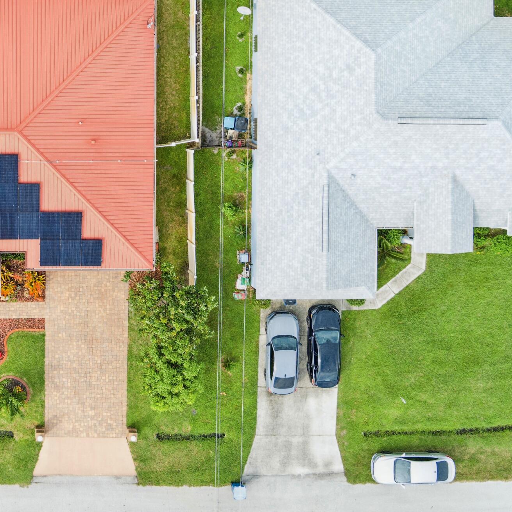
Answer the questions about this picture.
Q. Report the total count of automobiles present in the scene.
3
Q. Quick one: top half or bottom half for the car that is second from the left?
bottom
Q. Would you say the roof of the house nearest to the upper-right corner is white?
Yes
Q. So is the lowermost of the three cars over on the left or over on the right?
right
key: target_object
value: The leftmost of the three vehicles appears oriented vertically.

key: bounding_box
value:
[263,309,305,394]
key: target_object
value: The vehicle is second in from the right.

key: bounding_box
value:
[306,302,347,388]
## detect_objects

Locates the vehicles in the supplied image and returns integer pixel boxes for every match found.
[371,448,458,490]
[306,302,347,388]
[263,309,305,394]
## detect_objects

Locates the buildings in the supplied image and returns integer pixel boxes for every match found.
[0,0,162,296]
[245,0,512,299]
